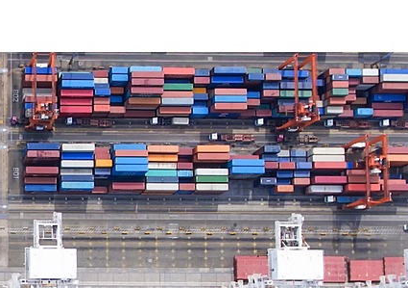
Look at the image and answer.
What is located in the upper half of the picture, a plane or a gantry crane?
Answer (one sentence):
There is a gantry crane in the upper half of the picture.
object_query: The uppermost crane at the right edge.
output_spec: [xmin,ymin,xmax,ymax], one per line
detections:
[336,136,390,208]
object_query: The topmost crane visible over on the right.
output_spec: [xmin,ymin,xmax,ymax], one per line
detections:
[269,54,321,134]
